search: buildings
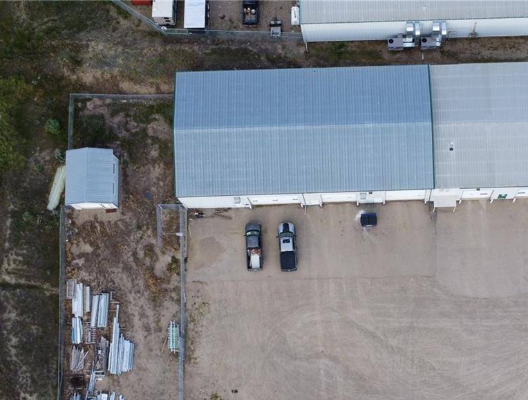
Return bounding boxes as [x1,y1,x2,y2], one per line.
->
[172,62,528,212]
[299,0,528,54]
[65,147,119,214]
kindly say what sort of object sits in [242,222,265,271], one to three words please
truck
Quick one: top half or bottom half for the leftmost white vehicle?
top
